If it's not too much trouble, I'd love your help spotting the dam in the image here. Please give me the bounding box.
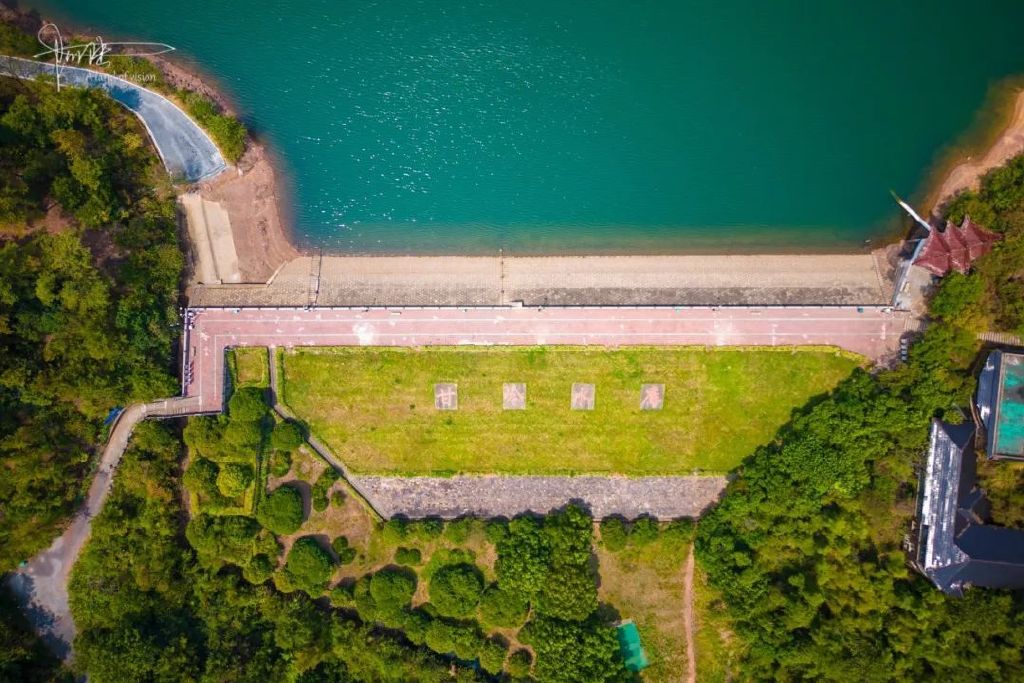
[156,240,911,520]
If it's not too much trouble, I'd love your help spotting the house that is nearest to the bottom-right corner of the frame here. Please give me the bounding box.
[917,419,1024,597]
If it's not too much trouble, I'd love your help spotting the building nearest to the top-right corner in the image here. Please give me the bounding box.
[906,213,1002,279]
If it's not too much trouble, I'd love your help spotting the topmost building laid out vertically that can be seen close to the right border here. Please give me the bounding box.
[975,348,1024,461]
